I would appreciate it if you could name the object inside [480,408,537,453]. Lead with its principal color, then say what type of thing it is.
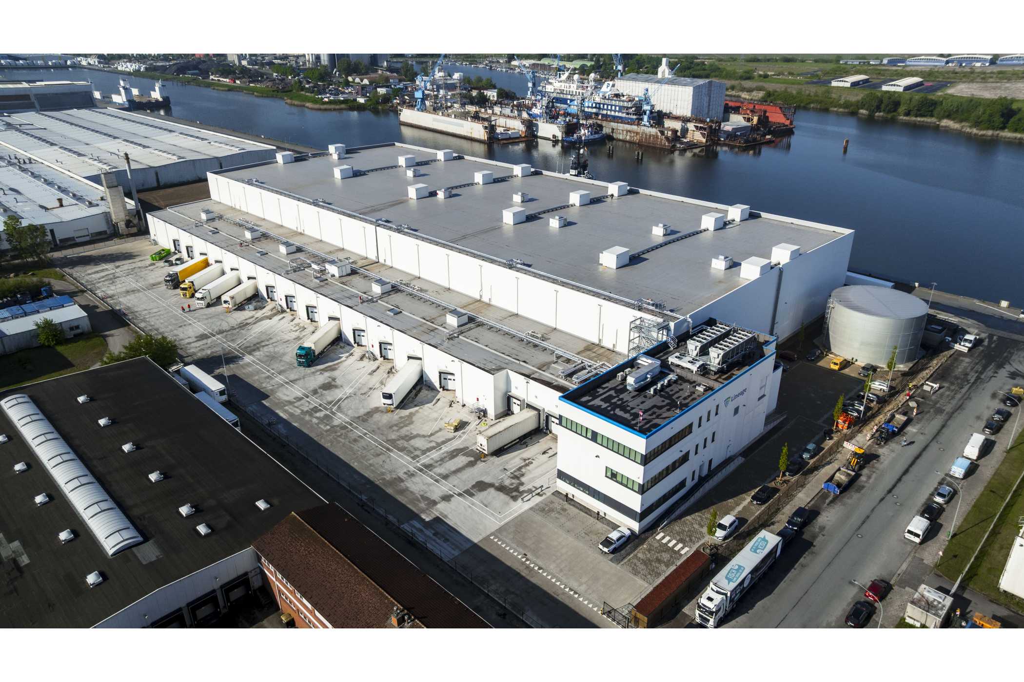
white trailer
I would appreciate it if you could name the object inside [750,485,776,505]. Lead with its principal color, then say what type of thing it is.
black car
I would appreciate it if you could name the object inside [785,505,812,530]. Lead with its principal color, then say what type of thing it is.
black car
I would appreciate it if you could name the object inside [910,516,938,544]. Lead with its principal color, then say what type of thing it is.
white van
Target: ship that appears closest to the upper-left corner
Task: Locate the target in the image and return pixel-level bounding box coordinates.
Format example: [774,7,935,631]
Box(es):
[110,73,170,106]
